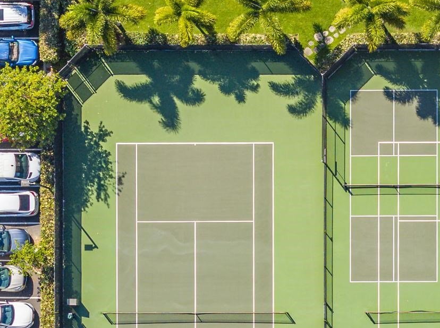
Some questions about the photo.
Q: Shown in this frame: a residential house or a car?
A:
car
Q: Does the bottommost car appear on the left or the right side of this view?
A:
left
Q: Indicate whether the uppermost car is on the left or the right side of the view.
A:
left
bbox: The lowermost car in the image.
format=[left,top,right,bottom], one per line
[0,299,36,328]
